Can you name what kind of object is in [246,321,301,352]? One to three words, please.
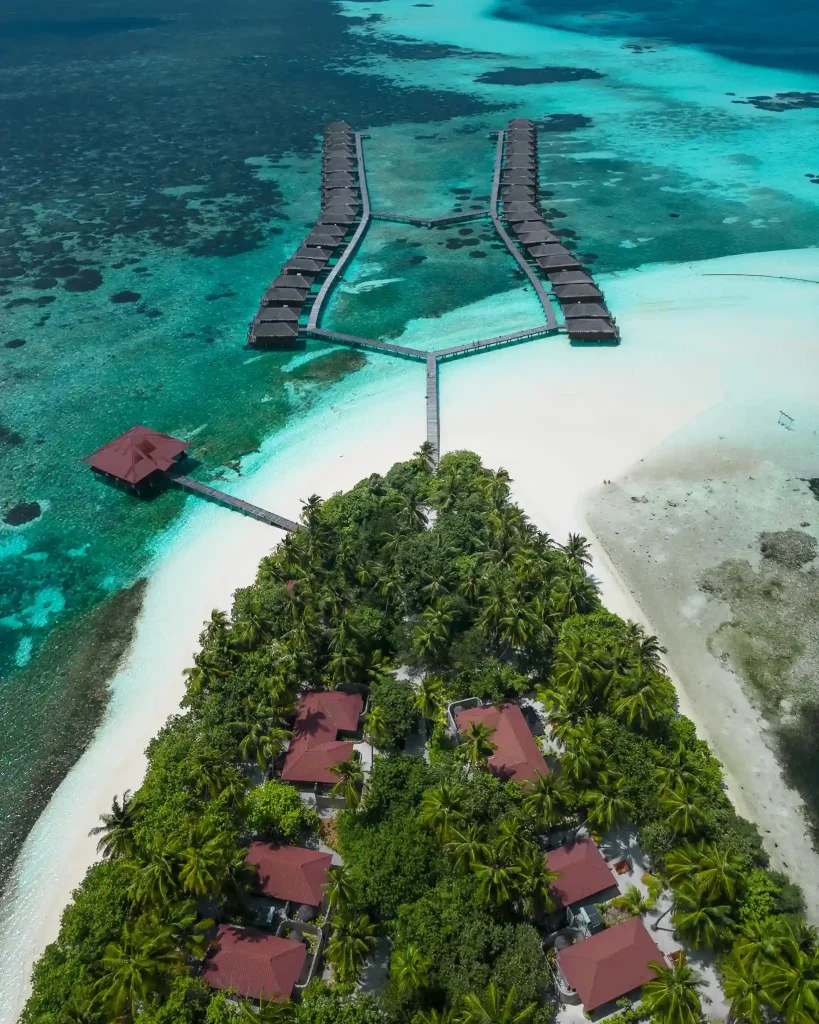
house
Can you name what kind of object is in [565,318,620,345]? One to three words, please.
house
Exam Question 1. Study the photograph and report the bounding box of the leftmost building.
[79,429,192,498]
